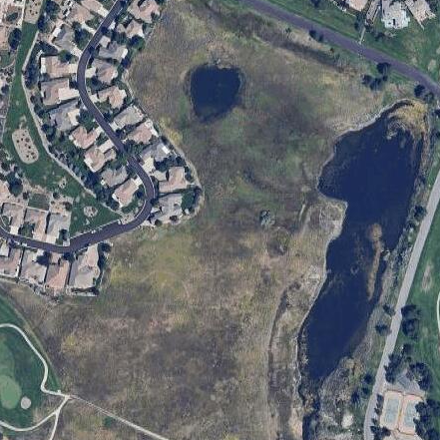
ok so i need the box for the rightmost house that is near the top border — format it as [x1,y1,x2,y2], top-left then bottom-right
[405,0,436,25]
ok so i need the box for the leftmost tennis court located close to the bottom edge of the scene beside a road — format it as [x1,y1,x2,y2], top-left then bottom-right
[380,391,403,429]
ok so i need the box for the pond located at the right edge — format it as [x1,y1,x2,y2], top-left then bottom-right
[295,102,430,398]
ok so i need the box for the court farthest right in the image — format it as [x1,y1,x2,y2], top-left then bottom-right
[399,394,424,434]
